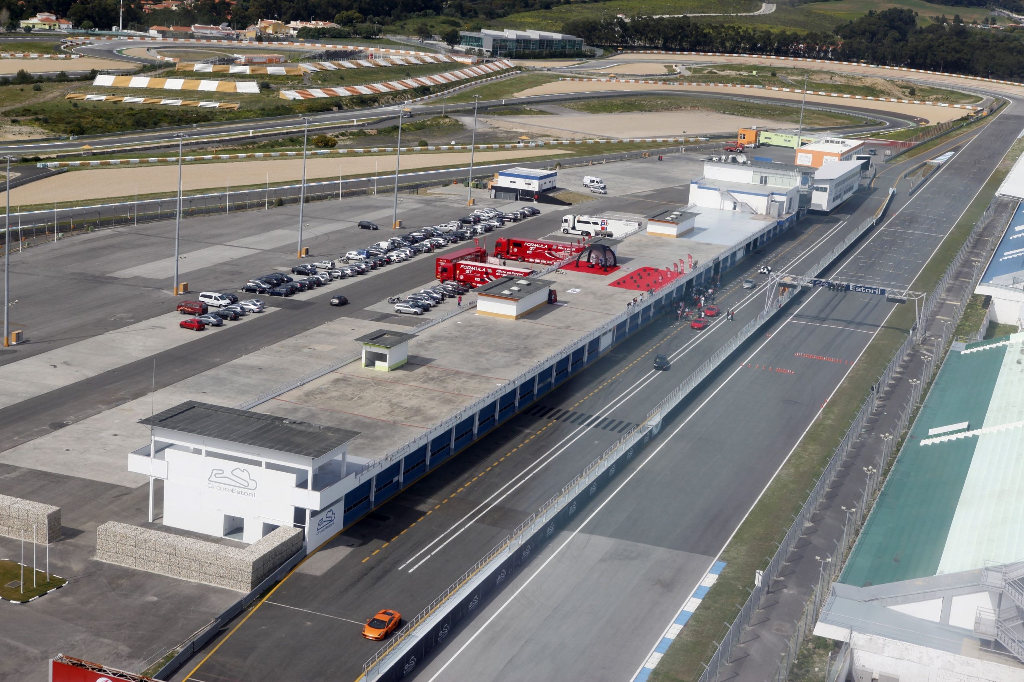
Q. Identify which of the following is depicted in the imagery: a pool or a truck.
truck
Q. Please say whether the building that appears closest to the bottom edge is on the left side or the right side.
left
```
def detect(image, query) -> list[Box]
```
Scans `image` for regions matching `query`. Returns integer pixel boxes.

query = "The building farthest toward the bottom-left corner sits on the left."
[128,400,375,555]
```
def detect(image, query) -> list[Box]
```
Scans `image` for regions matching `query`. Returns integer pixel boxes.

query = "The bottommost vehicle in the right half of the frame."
[652,354,670,371]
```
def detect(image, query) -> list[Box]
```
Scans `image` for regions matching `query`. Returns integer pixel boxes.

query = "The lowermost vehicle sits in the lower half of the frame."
[361,610,402,641]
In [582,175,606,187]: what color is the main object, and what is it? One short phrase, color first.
white vehicle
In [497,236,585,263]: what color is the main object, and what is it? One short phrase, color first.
red truck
